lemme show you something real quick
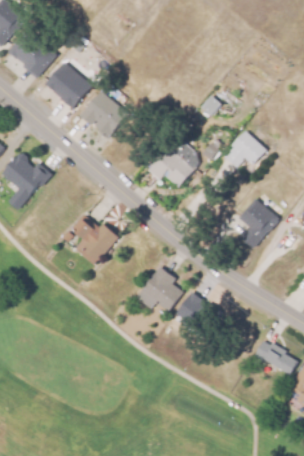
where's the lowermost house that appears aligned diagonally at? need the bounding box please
[258,336,300,375]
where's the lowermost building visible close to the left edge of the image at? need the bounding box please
[2,153,54,210]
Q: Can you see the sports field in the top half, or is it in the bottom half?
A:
bottom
